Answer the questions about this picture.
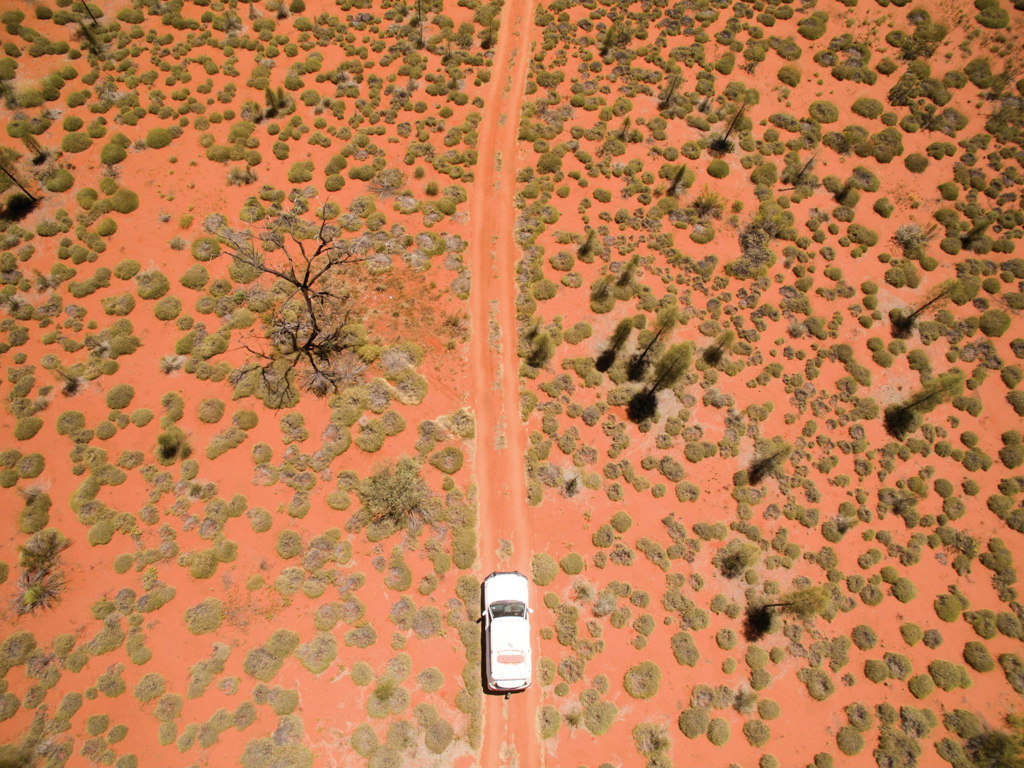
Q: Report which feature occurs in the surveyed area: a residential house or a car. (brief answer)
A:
car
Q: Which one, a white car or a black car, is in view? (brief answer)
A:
white car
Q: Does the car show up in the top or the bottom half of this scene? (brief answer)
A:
bottom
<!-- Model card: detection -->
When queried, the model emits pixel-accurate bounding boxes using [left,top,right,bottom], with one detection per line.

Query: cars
[482,570,534,697]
